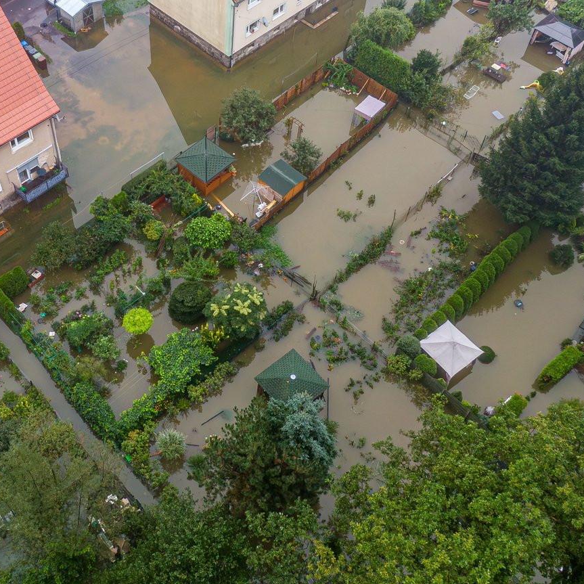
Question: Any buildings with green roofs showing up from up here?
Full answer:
Yes, the picture does show a building with a green roof.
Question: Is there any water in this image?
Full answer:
Yes, water shows up in the scene.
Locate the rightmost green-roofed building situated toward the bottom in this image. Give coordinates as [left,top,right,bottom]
[254,348,329,405]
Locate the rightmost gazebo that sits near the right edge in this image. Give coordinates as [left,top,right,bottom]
[528,13,584,67]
